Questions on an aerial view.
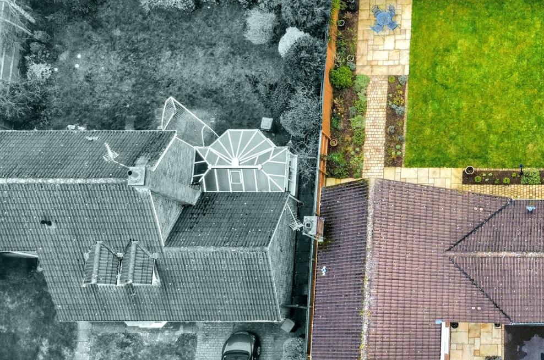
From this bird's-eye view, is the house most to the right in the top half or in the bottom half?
bottom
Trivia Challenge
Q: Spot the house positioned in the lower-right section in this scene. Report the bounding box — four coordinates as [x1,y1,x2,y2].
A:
[301,178,544,360]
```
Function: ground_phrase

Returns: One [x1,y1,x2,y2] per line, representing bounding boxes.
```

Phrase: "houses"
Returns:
[0,127,302,332]
[301,178,544,360]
